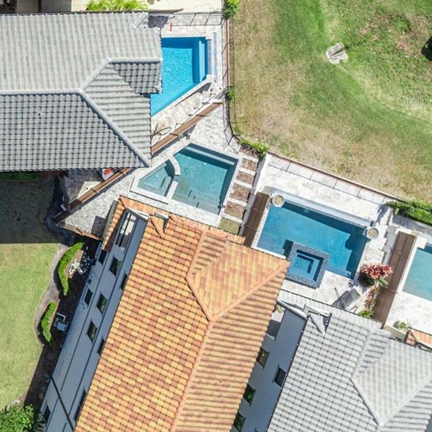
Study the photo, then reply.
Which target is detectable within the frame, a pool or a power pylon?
pool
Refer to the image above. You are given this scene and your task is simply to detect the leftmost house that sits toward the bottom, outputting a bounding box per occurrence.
[34,194,291,432]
